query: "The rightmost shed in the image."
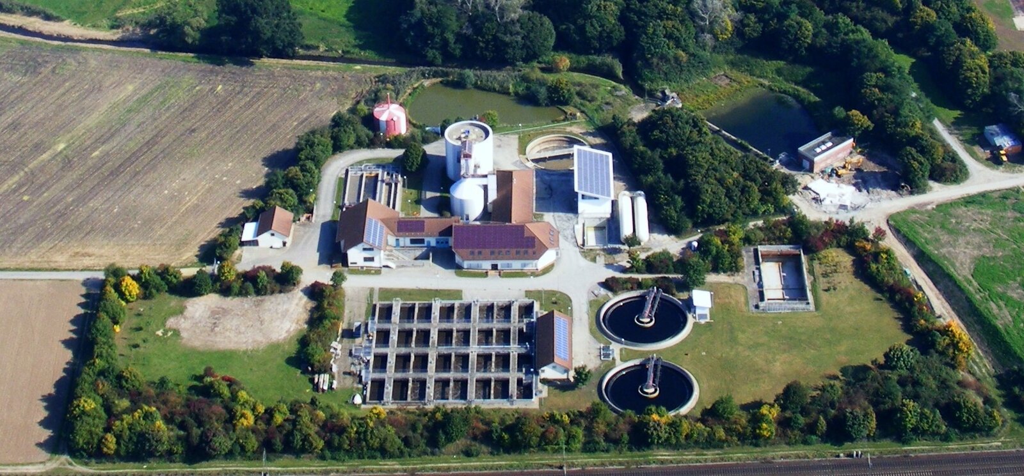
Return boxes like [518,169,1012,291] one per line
[983,122,1024,158]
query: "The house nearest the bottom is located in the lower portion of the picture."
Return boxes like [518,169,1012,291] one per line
[537,310,572,379]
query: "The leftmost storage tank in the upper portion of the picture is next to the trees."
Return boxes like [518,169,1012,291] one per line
[372,93,408,137]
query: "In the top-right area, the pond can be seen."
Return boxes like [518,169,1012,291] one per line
[703,92,822,160]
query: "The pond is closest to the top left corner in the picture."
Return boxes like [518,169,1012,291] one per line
[410,86,566,128]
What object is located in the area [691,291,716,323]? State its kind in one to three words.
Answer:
shed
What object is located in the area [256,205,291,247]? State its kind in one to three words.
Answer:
building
